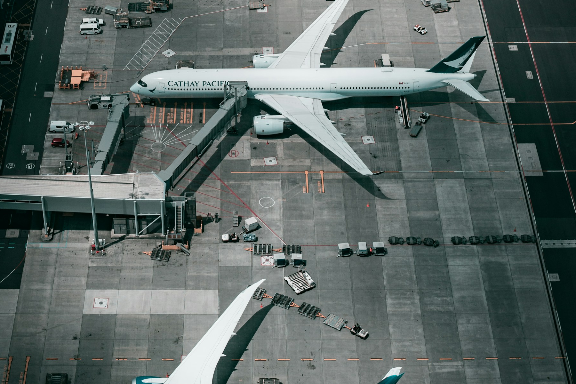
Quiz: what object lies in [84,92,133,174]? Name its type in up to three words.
jet bridge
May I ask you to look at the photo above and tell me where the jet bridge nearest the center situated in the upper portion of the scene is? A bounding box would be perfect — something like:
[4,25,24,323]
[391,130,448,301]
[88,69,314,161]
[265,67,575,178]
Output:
[158,77,247,213]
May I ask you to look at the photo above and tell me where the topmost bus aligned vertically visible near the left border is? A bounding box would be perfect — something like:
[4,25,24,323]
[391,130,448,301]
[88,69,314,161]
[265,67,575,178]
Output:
[0,23,20,68]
